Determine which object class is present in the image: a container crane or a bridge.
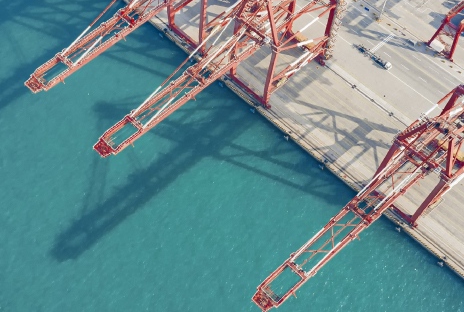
container crane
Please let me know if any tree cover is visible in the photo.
No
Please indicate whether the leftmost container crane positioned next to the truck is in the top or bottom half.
top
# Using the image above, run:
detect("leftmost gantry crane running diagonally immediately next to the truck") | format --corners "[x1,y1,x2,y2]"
[93,0,345,159]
